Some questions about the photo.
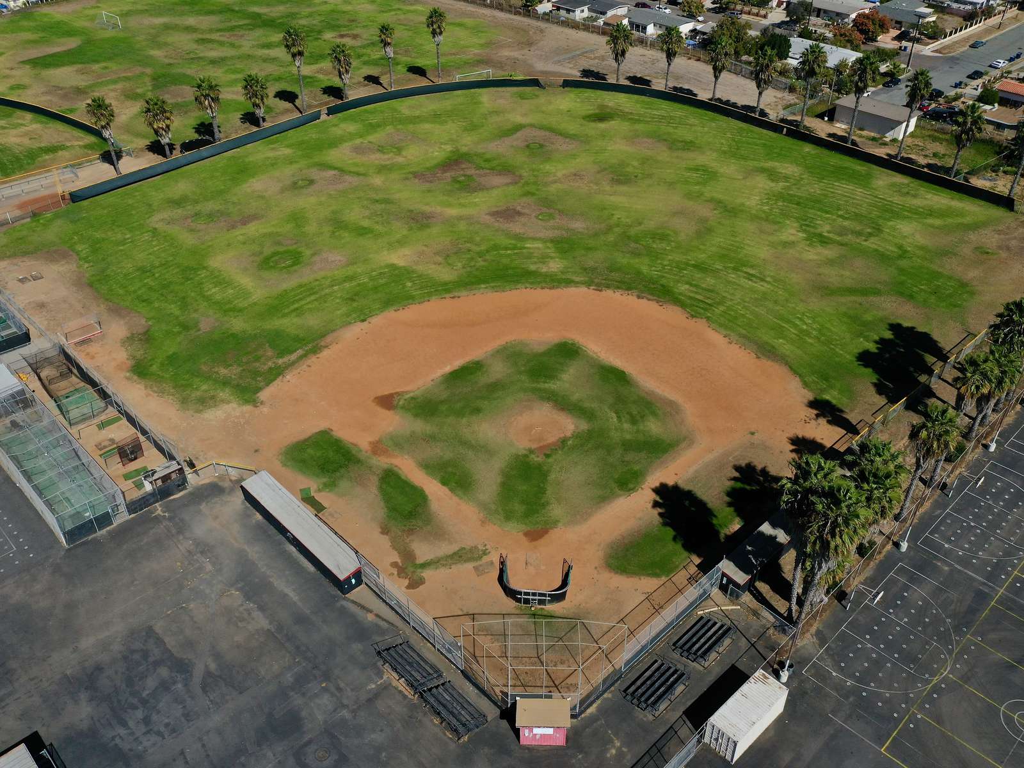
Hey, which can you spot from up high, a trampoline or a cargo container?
cargo container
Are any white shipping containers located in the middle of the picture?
No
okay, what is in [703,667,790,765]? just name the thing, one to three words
shipping container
